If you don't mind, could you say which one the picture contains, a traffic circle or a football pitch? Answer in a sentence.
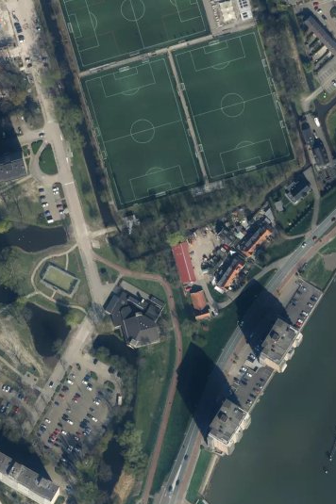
Looking from above, you can make out a football pitch.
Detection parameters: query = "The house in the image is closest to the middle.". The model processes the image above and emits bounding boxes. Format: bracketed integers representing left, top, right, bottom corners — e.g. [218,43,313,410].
[173,243,196,283]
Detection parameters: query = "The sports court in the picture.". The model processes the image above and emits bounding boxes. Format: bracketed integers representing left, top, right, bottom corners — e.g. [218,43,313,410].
[42,265,78,293]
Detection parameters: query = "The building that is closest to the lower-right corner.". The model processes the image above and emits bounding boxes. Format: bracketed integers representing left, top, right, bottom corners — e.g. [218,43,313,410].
[204,400,249,455]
